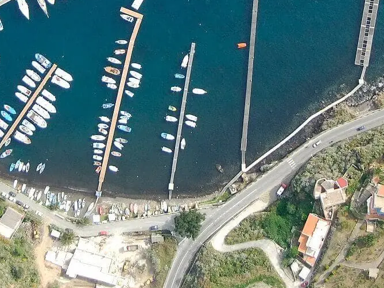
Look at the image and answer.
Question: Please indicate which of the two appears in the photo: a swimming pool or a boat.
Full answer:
Of the two, only a boat appears.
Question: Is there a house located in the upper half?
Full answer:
No, there's no house to be seen in the upper half.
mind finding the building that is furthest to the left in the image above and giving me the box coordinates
[0,205,26,238]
